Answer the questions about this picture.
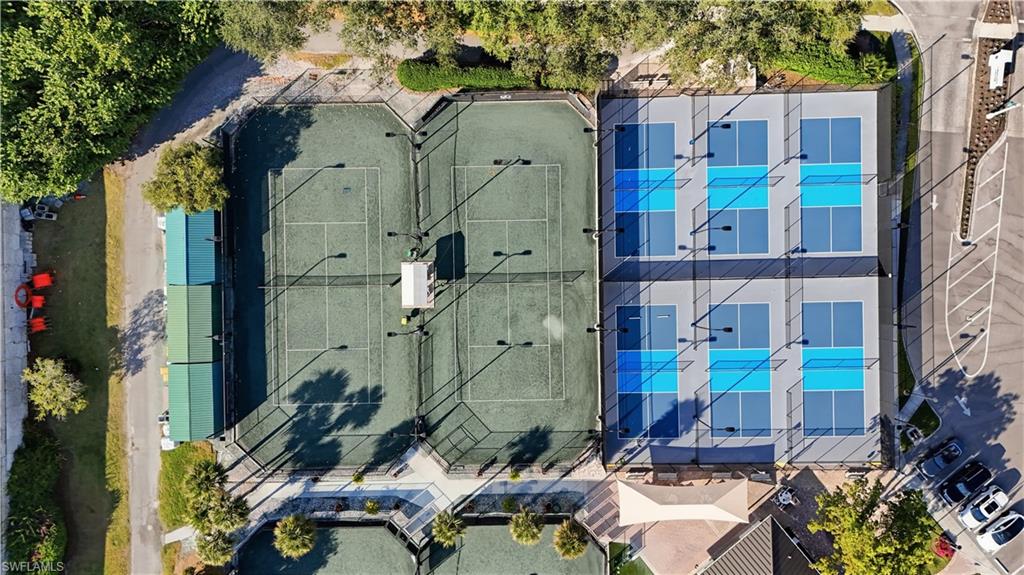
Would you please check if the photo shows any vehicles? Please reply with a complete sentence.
Yes, the picture does show a vehicle.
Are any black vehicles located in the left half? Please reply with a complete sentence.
No, looking in the left half, there is no black vehicle.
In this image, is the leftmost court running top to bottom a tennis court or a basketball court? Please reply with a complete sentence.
The leftmost court running top to bottom can be classified as a tennis court.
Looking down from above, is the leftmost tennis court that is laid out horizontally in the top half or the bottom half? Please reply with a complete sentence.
It is in the bottom half that the leftmost tennis court that is laid out horizontally appears.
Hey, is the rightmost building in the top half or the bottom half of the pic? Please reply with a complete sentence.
Seen from above, the rightmost building lies in the bottom half of the view.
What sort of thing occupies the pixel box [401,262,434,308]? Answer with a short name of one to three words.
shed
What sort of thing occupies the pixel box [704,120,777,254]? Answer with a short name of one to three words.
sports court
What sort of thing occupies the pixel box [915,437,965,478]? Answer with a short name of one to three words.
car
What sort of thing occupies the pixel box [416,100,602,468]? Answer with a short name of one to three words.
tennis court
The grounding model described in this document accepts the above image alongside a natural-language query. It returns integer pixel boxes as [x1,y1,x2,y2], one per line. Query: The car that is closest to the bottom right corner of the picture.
[977,507,1024,551]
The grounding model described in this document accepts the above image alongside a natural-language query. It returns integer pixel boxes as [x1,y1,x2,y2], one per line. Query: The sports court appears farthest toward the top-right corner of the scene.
[797,117,871,252]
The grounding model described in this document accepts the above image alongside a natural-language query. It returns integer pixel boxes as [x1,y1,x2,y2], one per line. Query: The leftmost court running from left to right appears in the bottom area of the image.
[237,519,418,575]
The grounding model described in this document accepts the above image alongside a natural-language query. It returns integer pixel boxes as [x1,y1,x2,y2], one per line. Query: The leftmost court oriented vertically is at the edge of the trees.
[233,103,418,469]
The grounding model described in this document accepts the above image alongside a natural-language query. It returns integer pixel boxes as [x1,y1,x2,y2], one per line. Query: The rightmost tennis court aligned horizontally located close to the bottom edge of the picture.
[422,528,606,575]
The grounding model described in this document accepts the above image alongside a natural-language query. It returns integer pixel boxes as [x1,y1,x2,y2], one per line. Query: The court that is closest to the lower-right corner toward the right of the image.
[799,302,873,436]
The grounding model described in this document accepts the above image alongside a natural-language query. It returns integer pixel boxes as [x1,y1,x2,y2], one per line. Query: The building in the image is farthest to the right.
[682,515,818,575]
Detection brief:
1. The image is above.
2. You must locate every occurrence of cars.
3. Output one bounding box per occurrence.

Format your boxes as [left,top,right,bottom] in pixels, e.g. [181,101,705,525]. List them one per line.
[977,507,1024,551]
[915,437,965,478]
[939,459,992,504]
[958,486,1009,529]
